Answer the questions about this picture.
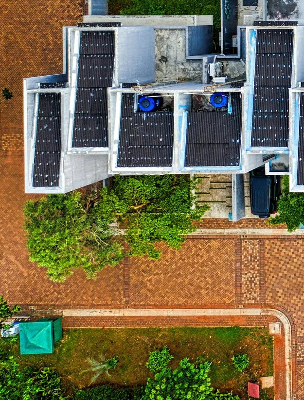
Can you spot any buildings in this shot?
Yes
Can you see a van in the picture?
Yes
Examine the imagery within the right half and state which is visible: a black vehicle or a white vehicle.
black vehicle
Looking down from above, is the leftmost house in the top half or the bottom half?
top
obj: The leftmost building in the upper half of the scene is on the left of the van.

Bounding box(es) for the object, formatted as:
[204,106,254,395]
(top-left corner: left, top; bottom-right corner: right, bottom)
[23,13,232,193]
